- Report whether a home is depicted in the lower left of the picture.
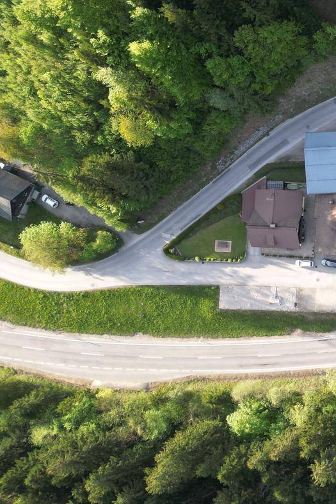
No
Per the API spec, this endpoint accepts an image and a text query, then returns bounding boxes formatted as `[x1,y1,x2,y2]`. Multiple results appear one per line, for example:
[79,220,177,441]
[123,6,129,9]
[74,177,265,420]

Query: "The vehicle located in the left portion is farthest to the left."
[40,194,58,207]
